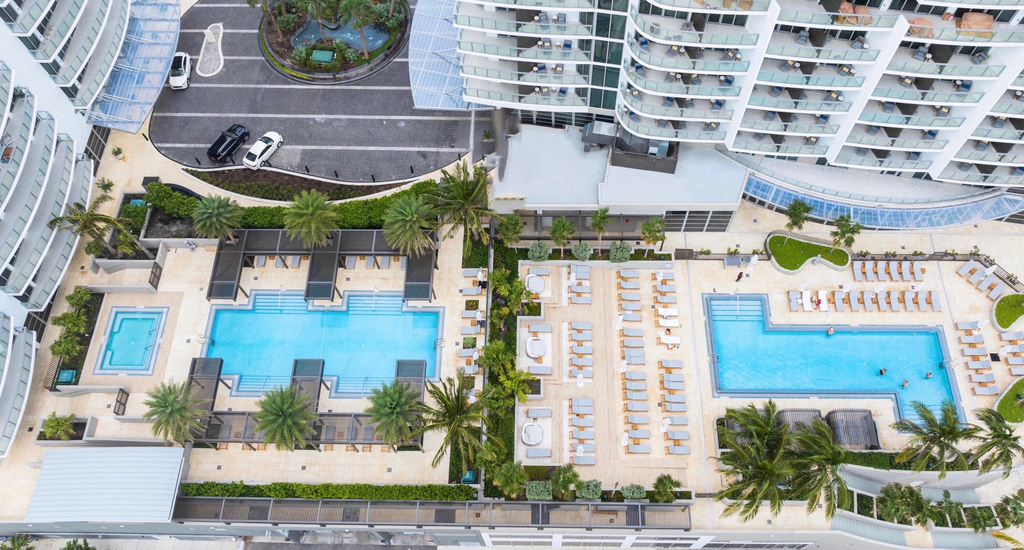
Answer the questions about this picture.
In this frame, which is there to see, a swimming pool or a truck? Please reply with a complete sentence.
The one in the frame is a swimming pool.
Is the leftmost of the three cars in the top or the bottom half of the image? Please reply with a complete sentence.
Seen from above, the leftmost of the three cars lies in the top half of the view.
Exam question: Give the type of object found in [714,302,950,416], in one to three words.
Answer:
swimming pool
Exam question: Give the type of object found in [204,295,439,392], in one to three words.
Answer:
swimming pool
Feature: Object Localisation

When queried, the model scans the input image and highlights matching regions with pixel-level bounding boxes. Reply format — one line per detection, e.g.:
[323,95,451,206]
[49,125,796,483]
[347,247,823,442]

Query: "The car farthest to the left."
[167,52,194,91]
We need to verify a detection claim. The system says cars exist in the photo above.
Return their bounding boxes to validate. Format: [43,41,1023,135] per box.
[167,52,194,91]
[207,126,246,162]
[238,132,281,170]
